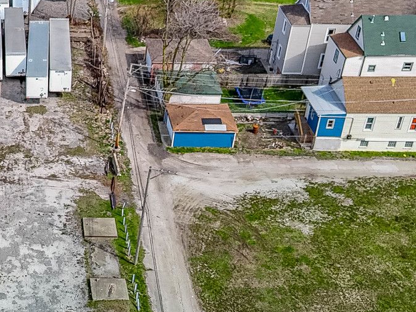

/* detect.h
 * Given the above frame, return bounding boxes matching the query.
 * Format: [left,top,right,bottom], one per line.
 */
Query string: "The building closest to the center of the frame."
[165,104,240,148]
